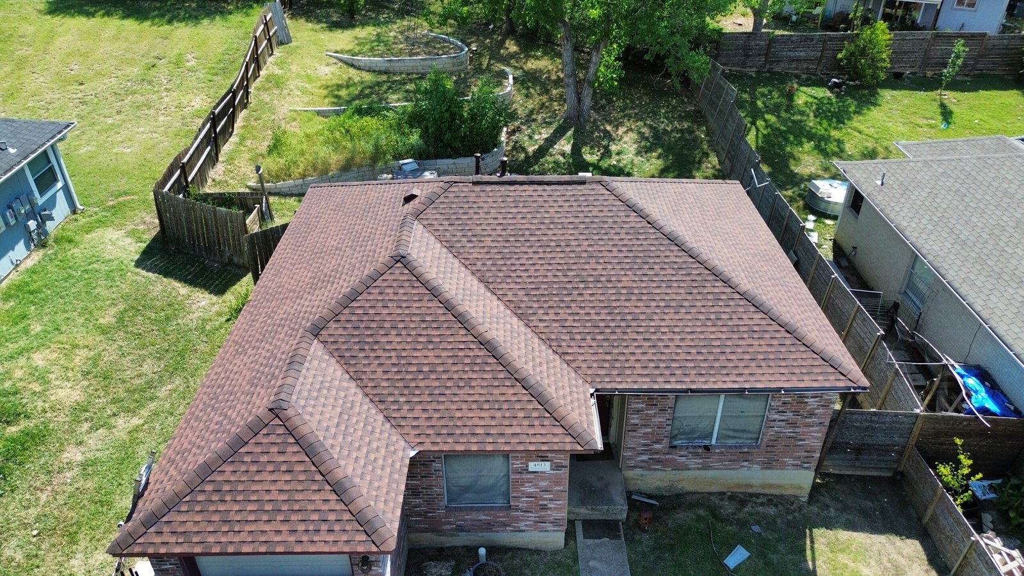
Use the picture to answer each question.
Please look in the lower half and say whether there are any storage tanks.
No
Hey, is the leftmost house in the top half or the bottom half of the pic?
top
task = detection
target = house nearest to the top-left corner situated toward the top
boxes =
[0,121,86,282]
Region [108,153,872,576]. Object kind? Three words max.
house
